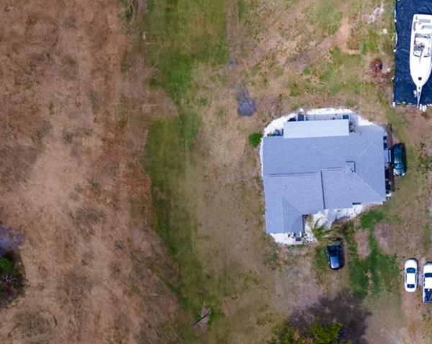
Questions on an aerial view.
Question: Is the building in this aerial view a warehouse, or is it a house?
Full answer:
I'd say the building is a house.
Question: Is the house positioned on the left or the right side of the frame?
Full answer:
The house appears in the right half of the scene.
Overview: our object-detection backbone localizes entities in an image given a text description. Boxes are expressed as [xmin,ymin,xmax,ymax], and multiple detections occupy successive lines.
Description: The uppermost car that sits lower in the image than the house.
[327,243,342,271]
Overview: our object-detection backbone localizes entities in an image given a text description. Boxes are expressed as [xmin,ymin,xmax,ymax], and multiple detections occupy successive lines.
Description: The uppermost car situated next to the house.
[392,142,407,177]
